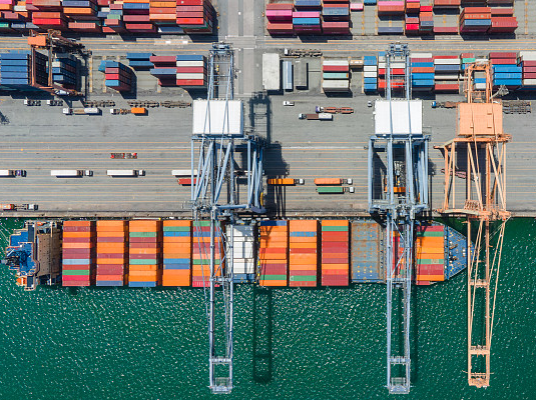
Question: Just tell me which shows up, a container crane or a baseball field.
container crane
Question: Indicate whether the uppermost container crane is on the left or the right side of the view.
left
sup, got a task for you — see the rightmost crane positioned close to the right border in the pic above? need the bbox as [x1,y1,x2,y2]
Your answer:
[429,66,516,387]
